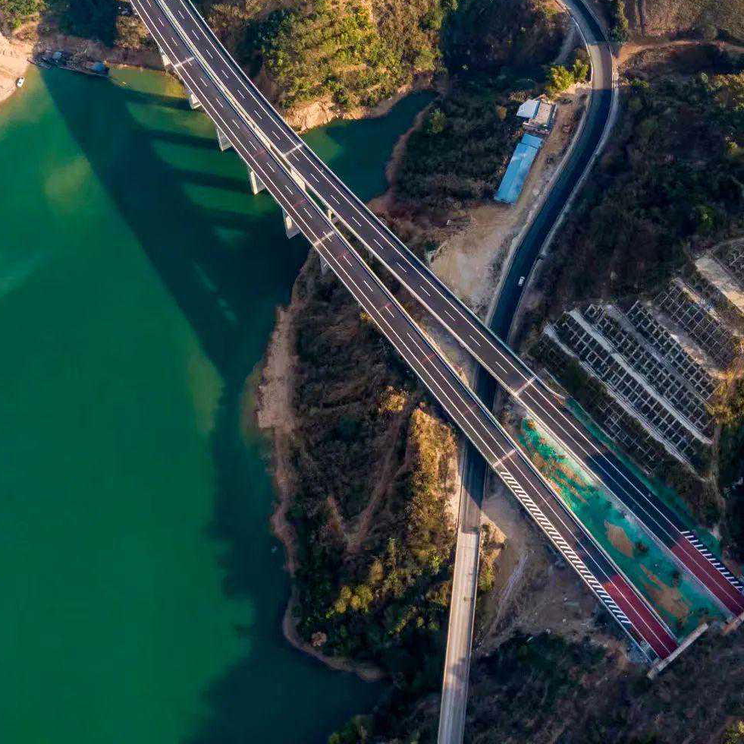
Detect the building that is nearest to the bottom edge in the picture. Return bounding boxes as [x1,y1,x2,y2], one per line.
[496,135,540,202]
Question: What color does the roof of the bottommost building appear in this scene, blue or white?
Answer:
blue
